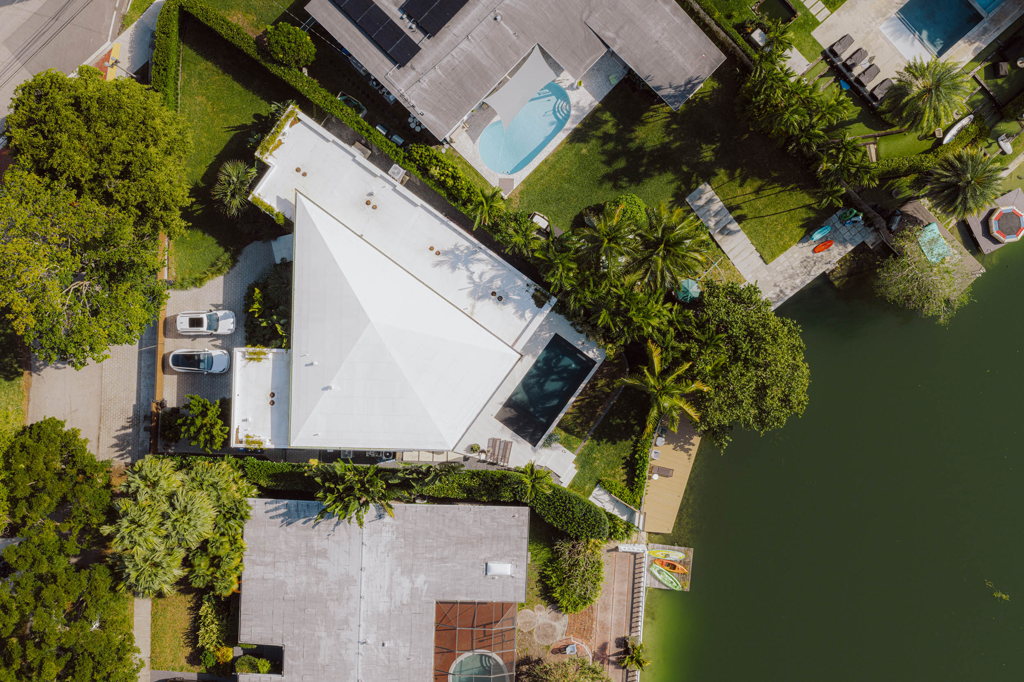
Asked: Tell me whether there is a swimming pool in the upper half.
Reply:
Yes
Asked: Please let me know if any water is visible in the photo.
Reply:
Yes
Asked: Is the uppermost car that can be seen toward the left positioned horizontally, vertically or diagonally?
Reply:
horizontally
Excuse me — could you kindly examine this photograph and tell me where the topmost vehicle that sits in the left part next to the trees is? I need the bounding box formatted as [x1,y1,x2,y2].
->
[175,306,239,338]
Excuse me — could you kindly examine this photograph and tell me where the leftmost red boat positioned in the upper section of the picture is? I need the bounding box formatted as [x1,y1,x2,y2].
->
[813,240,834,253]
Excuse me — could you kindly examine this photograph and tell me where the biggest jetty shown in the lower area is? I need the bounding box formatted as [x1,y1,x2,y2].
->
[645,409,715,533]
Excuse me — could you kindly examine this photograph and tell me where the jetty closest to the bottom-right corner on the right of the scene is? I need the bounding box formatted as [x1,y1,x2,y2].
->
[645,543,693,591]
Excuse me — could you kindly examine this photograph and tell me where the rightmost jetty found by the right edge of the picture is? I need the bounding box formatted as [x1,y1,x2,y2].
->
[965,188,1024,255]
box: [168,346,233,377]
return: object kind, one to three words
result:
car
